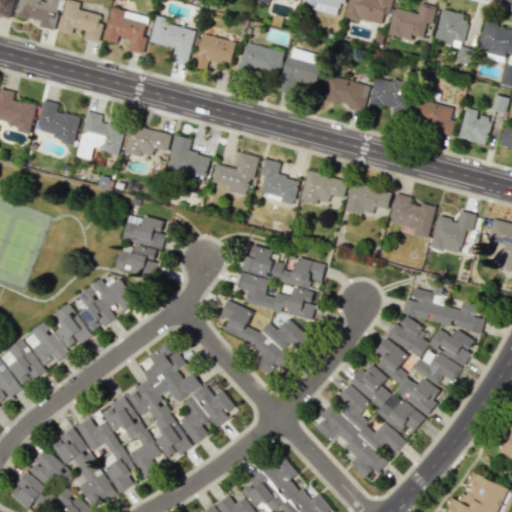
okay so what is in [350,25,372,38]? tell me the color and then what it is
blue swimming pool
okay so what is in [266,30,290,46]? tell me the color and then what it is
white swimming pool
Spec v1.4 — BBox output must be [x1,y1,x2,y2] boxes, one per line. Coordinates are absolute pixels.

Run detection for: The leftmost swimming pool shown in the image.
[2,130,28,144]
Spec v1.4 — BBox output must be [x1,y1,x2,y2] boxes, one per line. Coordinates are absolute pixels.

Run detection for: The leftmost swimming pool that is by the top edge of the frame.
[167,4,192,18]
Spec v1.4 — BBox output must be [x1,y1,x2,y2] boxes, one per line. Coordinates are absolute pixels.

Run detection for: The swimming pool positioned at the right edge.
[479,64,502,79]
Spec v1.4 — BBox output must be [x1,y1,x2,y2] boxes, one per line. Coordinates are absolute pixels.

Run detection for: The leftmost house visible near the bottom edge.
[14,472,46,508]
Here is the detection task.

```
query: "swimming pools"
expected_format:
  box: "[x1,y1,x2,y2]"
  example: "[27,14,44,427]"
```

[167,4,192,18]
[479,64,502,79]
[271,3,292,17]
[128,161,150,174]
[42,138,66,156]
[2,130,28,144]
[266,30,290,46]
[350,25,372,38]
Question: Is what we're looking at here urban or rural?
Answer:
urban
